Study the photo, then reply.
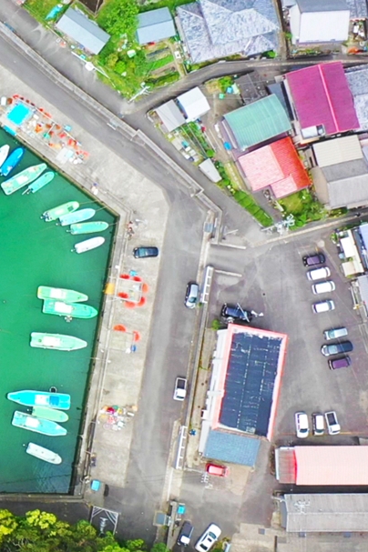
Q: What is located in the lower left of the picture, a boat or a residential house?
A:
boat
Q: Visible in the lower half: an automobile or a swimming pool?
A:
automobile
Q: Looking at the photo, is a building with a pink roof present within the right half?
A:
Yes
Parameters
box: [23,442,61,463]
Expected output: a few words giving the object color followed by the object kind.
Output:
white boat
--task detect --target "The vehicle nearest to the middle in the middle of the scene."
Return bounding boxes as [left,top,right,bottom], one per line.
[182,282,200,307]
